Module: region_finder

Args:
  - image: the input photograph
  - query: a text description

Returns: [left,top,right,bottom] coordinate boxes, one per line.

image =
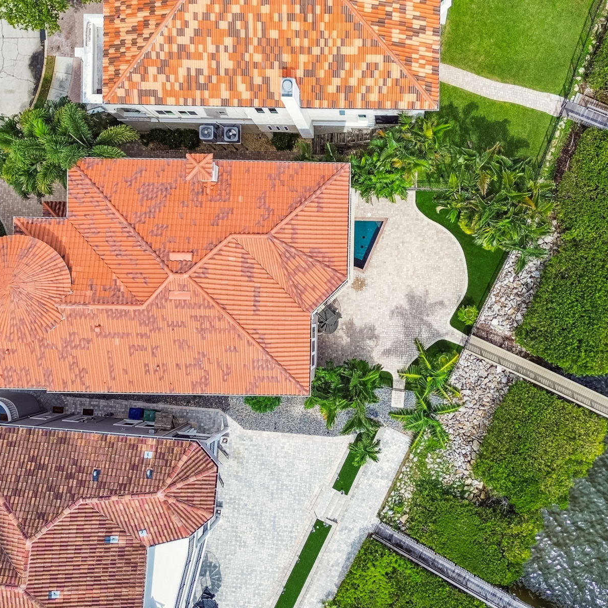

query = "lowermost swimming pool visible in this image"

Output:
[354,217,389,273]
